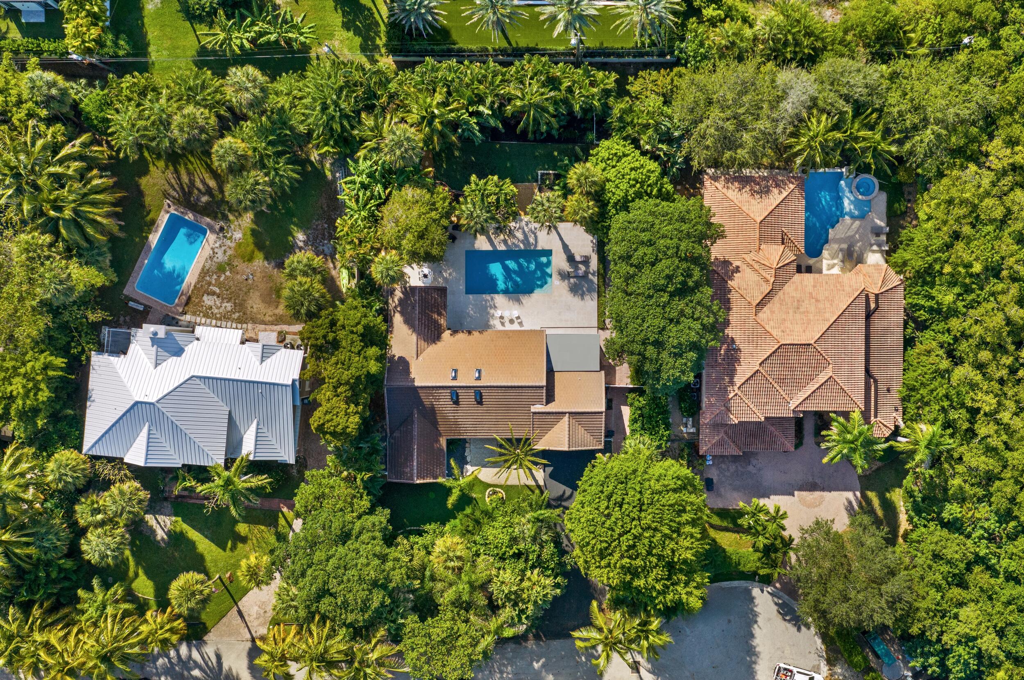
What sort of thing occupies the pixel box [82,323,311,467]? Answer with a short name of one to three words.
house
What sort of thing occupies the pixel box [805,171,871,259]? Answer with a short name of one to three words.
swimming pool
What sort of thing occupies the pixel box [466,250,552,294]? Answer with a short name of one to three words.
swimming pool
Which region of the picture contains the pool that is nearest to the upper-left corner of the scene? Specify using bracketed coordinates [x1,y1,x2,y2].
[135,212,209,307]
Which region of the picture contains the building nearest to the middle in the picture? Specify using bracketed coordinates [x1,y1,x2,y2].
[385,287,606,484]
